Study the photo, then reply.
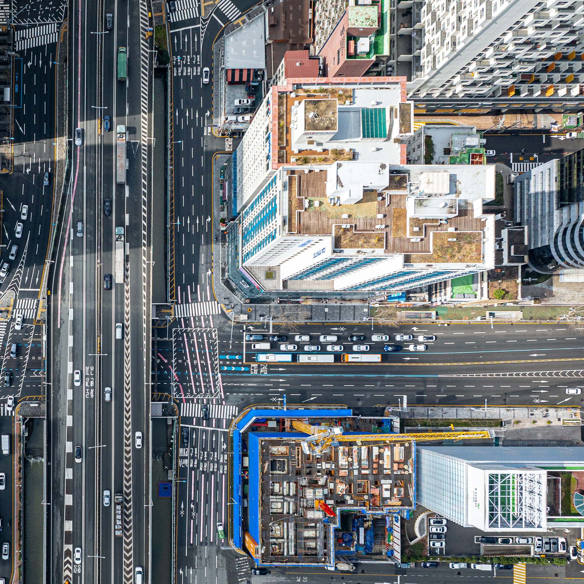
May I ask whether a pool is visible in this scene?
No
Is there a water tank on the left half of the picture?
No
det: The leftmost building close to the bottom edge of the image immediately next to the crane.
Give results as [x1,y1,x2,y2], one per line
[248,432,417,565]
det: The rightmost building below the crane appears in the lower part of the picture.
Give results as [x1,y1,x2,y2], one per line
[417,447,584,531]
